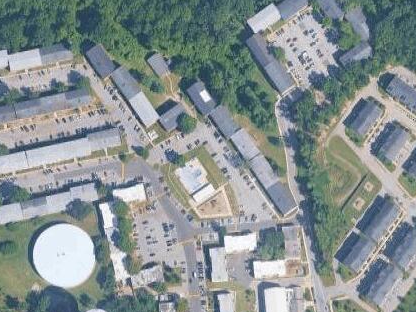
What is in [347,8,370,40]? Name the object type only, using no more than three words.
building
